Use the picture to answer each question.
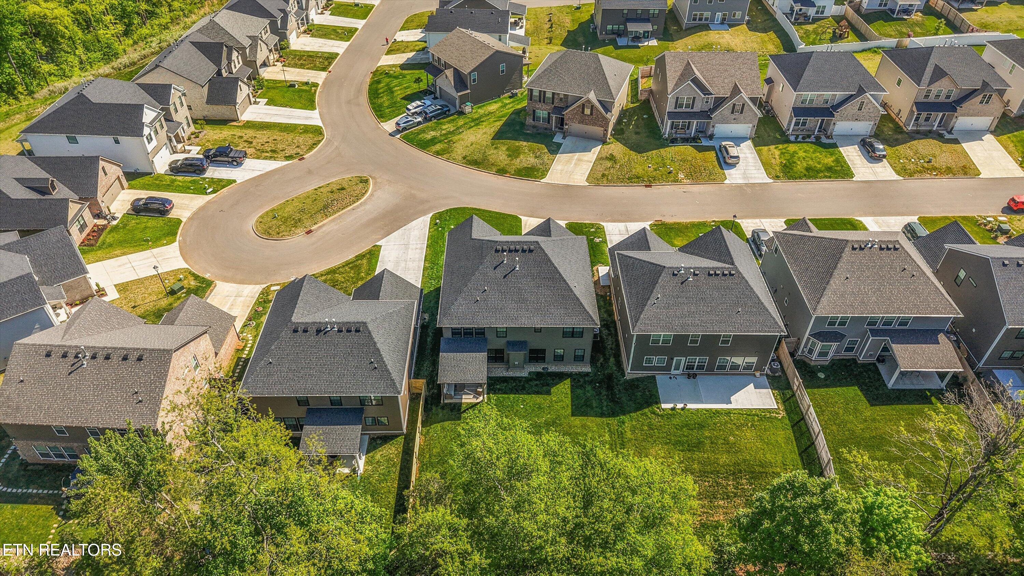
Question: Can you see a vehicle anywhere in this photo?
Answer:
Yes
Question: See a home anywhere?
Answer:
Yes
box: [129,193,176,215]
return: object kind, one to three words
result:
car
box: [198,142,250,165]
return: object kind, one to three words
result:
truck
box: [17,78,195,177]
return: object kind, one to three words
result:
house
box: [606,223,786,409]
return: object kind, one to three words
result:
house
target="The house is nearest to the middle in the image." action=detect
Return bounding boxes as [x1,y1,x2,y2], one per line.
[437,214,600,404]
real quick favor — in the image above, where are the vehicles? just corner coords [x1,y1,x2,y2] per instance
[402,97,433,114]
[720,142,742,164]
[419,102,451,121]
[166,153,210,173]
[861,137,889,159]
[198,142,250,165]
[750,227,769,250]
[900,216,932,240]
[391,113,424,132]
[129,193,176,215]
